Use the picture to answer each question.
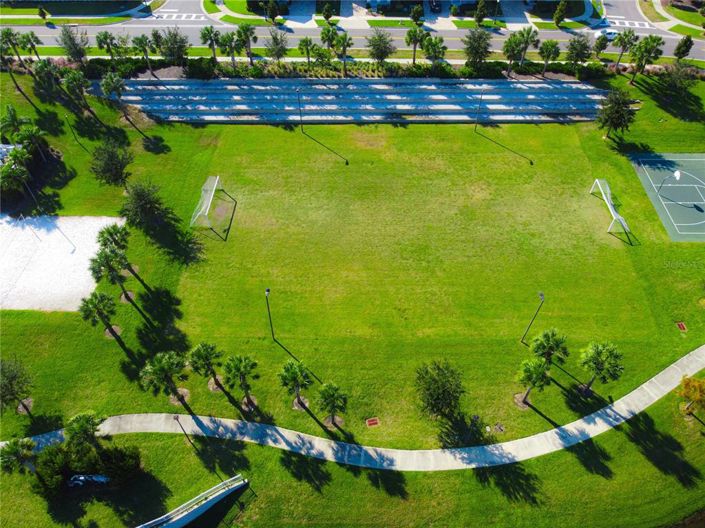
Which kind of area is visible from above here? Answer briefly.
sports ground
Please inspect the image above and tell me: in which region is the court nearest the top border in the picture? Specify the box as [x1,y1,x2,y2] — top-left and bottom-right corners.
[629,154,705,241]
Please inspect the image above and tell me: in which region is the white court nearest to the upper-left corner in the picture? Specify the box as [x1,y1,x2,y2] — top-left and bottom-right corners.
[0,215,126,310]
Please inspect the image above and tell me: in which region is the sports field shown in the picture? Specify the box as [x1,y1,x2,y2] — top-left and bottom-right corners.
[173,127,663,340]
